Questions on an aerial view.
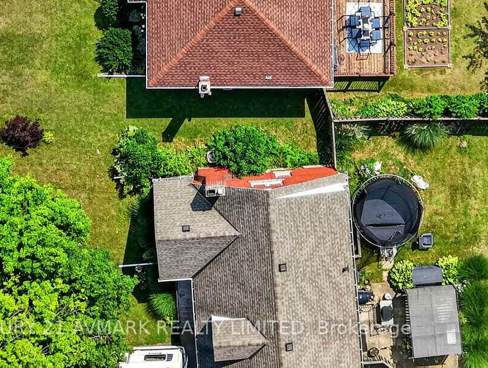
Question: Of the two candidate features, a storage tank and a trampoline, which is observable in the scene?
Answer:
trampoline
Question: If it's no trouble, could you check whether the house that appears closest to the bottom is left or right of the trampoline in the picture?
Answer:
left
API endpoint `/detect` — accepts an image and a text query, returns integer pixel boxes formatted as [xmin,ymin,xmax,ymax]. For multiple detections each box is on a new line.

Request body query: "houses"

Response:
[131,0,334,94]
[154,161,364,368]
